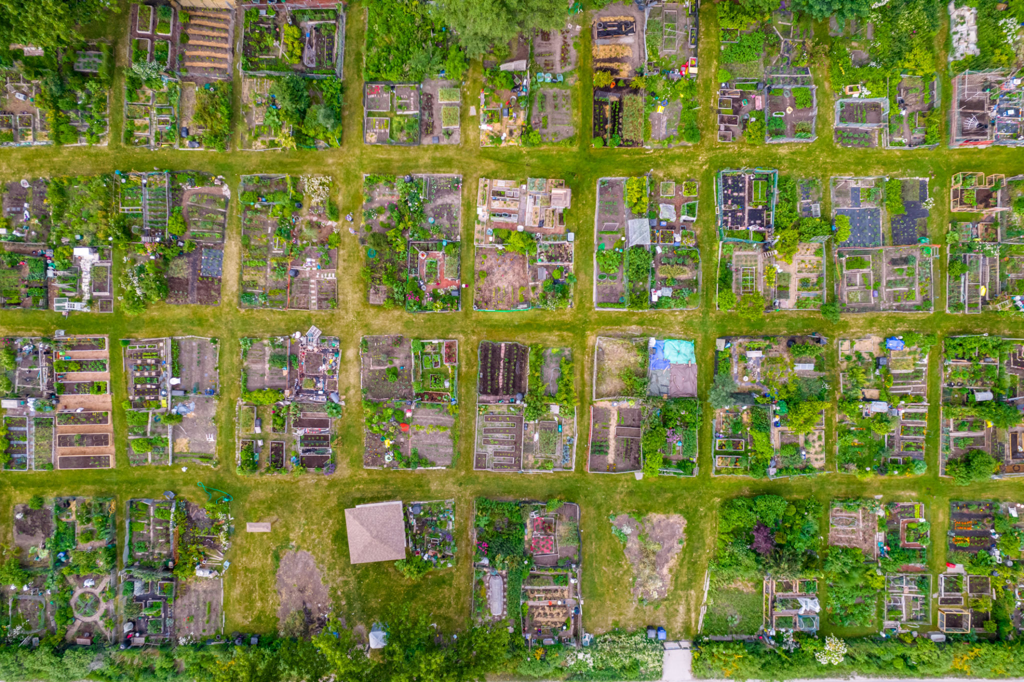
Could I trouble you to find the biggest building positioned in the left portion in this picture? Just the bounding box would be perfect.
[344,498,409,565]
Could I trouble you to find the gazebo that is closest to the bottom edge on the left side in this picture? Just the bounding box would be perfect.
[369,625,390,650]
